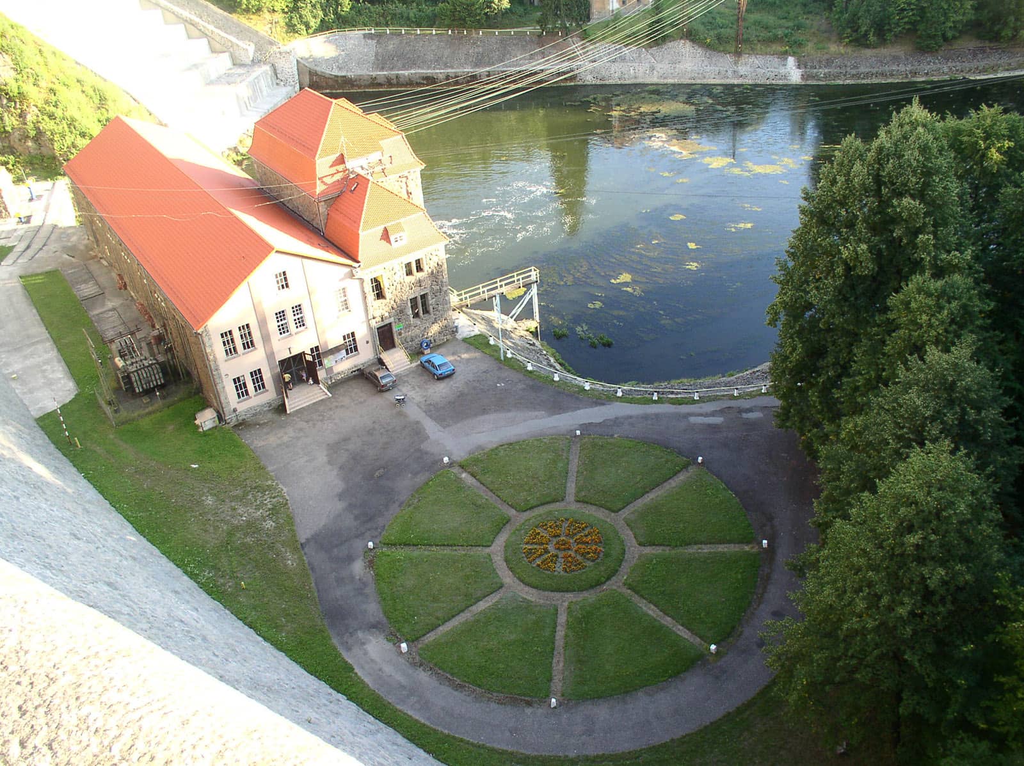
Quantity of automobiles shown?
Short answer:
2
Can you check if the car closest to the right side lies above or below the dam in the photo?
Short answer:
above it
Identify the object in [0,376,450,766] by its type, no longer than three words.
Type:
dam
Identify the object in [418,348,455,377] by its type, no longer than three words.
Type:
car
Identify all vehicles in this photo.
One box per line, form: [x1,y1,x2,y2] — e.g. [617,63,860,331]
[418,348,455,377]
[360,362,397,390]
